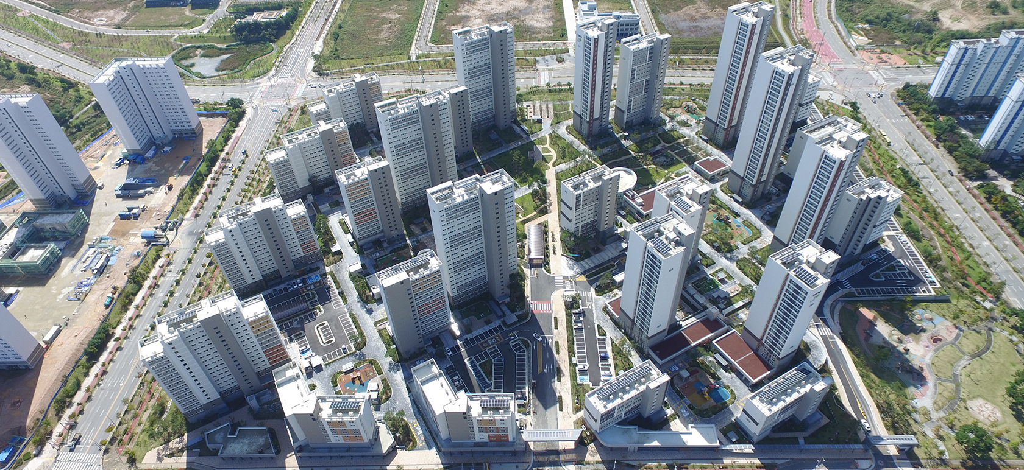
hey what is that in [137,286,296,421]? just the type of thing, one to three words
building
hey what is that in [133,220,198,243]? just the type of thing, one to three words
shed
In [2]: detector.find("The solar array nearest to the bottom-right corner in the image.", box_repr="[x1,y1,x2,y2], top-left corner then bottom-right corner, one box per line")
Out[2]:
[755,363,817,403]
